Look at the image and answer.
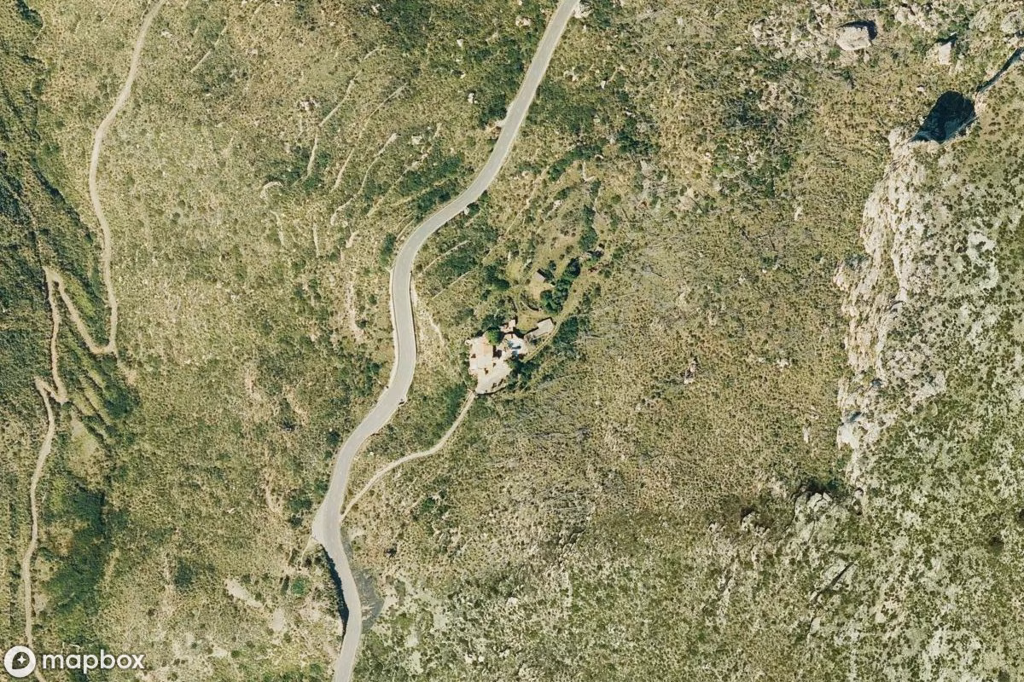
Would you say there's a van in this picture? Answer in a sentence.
No, there appears to be no van in this shot.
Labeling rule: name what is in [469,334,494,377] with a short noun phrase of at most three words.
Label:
house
